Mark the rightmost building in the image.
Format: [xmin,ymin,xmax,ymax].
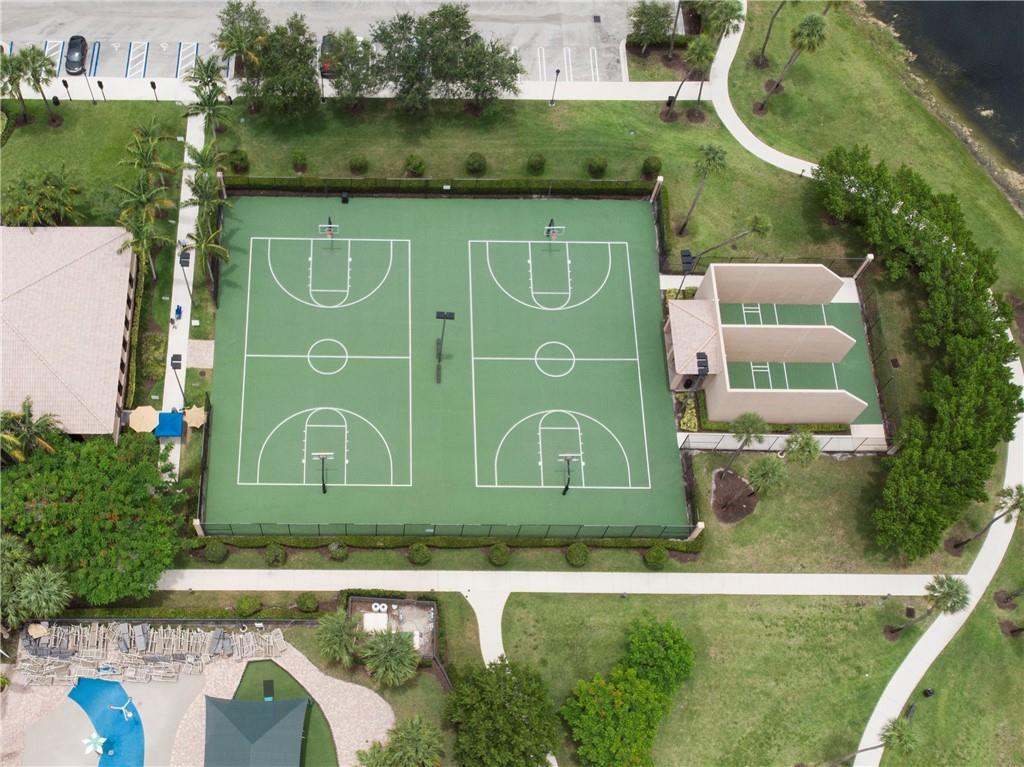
[662,299,715,390]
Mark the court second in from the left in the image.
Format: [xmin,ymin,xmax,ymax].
[431,197,690,535]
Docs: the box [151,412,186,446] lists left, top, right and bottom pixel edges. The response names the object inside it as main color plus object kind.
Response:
blue tent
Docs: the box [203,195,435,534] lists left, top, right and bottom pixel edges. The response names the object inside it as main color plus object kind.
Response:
green basketball court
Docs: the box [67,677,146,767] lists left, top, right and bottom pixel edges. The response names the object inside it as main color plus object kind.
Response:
blue swimming pool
